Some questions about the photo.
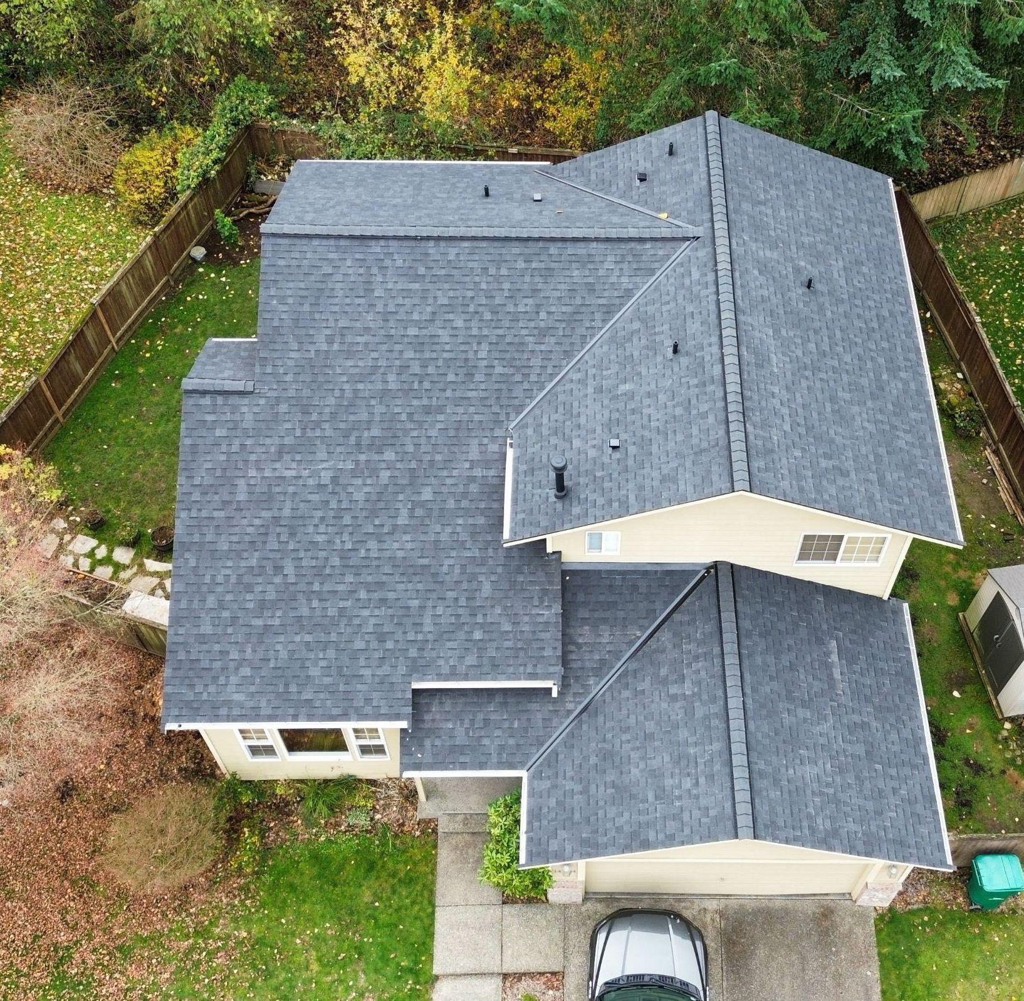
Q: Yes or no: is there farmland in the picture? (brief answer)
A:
No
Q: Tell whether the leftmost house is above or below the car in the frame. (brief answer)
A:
above it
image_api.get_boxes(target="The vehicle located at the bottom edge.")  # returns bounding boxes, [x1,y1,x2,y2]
[589,904,708,1001]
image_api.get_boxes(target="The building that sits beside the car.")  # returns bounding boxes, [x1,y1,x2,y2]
[164,111,965,911]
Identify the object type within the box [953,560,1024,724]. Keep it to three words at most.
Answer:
shed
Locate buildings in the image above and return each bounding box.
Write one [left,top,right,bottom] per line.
[953,560,1024,724]
[164,111,965,911]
